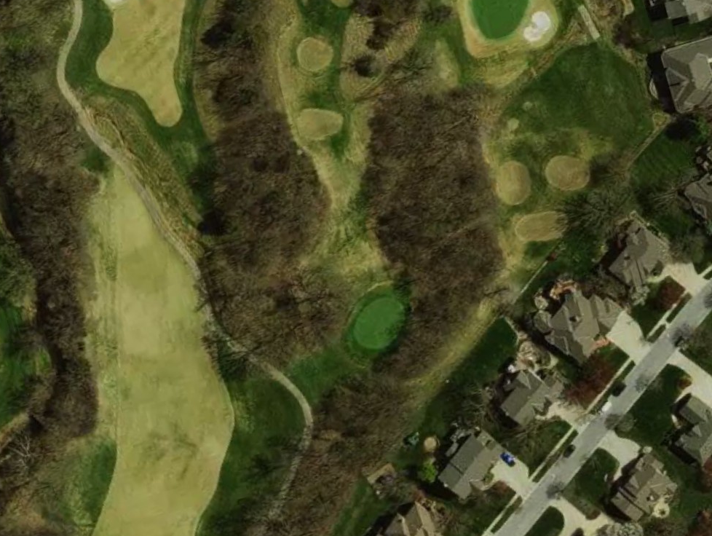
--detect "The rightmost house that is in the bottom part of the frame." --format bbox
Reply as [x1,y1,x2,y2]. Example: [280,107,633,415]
[677,391,712,469]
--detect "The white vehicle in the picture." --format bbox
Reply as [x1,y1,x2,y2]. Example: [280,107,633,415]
[601,401,614,415]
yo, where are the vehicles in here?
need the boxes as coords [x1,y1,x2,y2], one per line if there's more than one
[563,444,576,457]
[502,453,514,464]
[601,401,614,415]
[613,381,626,395]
